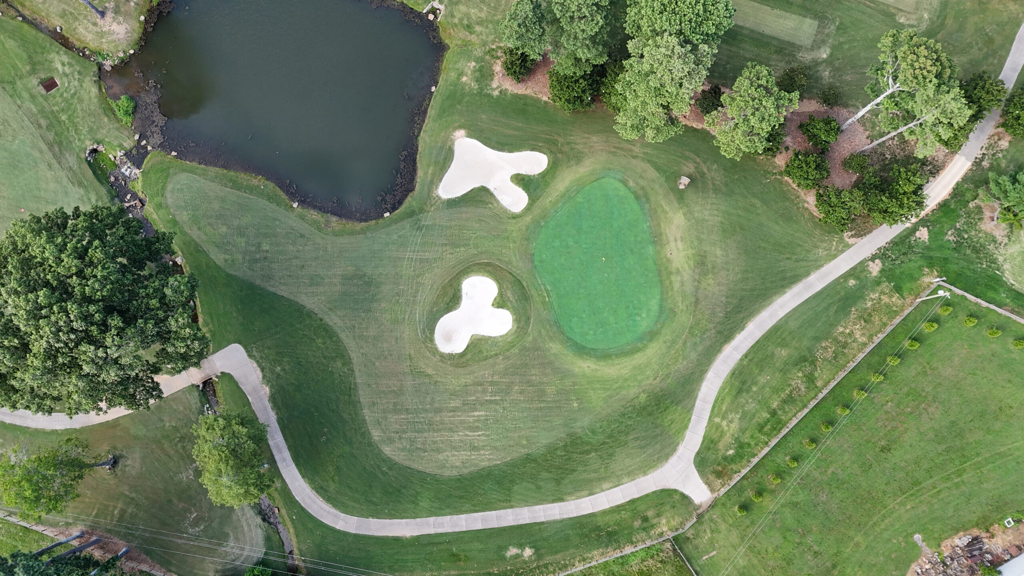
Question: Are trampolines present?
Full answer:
No, no trampoline is visible in the view.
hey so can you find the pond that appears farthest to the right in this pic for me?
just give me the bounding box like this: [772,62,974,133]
[127,0,437,215]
